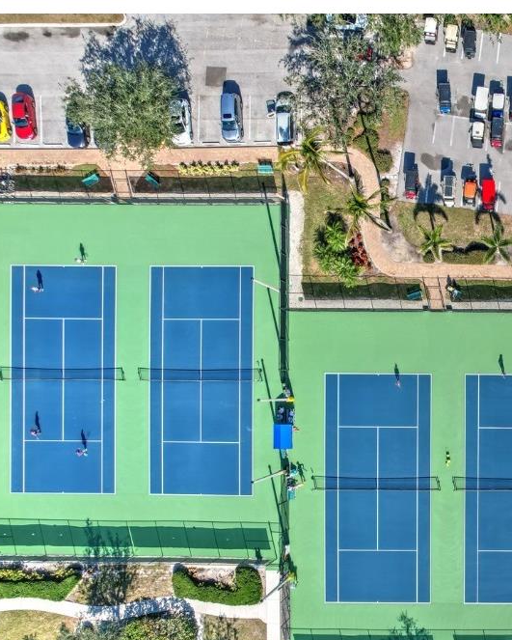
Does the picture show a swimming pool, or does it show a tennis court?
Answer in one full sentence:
This aerial view contains a tennis court.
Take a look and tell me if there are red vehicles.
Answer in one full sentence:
Yes, the picture does show a red vehicle.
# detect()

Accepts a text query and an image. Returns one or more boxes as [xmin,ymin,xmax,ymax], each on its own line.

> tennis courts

[287,309,448,640]
[132,203,286,556]
[0,203,132,556]
[448,309,512,640]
